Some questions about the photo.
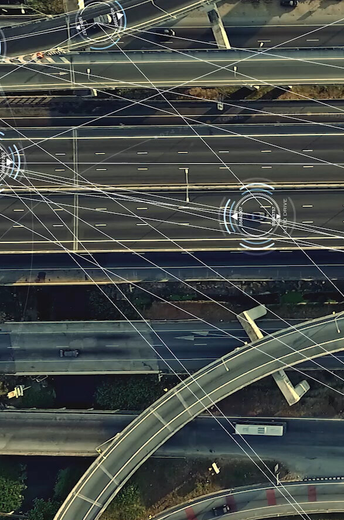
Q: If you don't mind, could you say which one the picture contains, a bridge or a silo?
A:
bridge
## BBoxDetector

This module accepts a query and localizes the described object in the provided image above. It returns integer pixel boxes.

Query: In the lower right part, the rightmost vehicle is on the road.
[232,423,286,438]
